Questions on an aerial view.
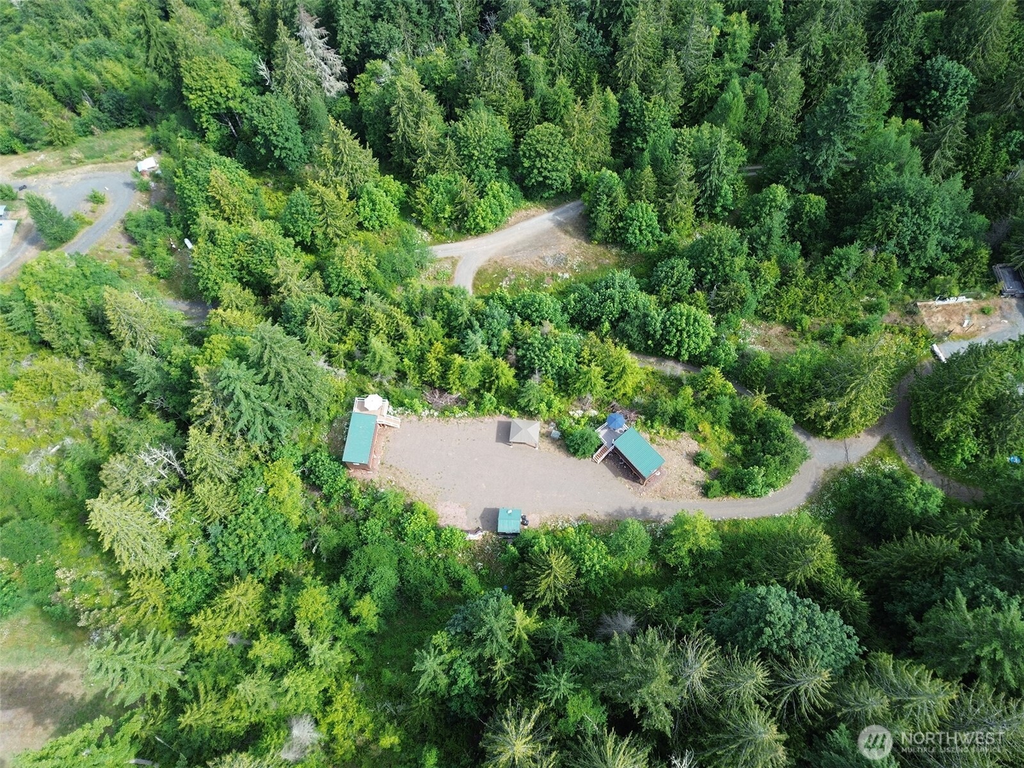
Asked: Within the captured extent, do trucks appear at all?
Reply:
No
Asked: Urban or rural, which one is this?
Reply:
rural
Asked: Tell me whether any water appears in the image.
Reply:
No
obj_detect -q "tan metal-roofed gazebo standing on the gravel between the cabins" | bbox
[509,420,540,450]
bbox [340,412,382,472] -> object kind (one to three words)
building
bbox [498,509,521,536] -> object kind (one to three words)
shed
